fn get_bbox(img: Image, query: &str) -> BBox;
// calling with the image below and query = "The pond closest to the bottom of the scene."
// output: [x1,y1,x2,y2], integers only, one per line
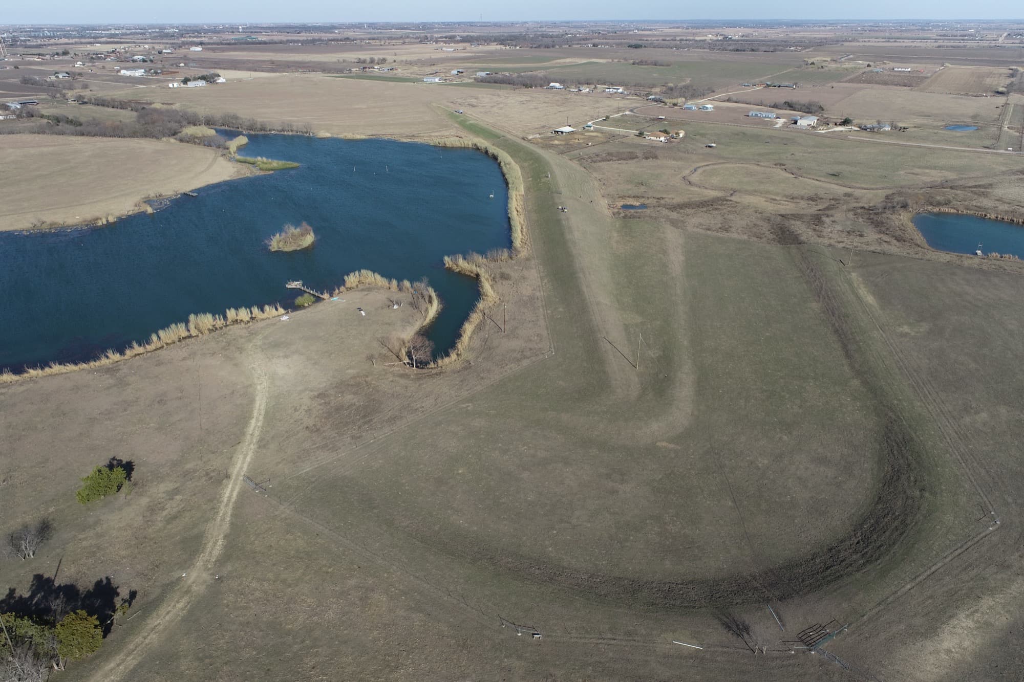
[914,213,1024,259]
